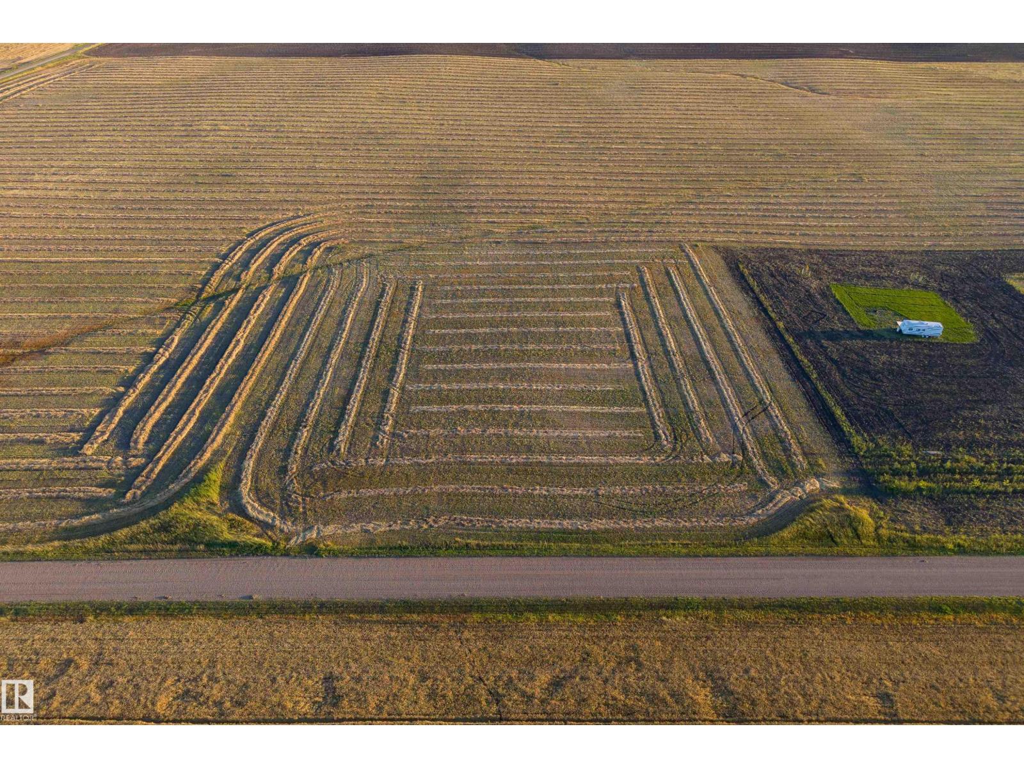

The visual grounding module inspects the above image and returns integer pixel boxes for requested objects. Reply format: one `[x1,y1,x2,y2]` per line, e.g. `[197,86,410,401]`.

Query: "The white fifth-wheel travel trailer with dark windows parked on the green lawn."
[898,319,946,337]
